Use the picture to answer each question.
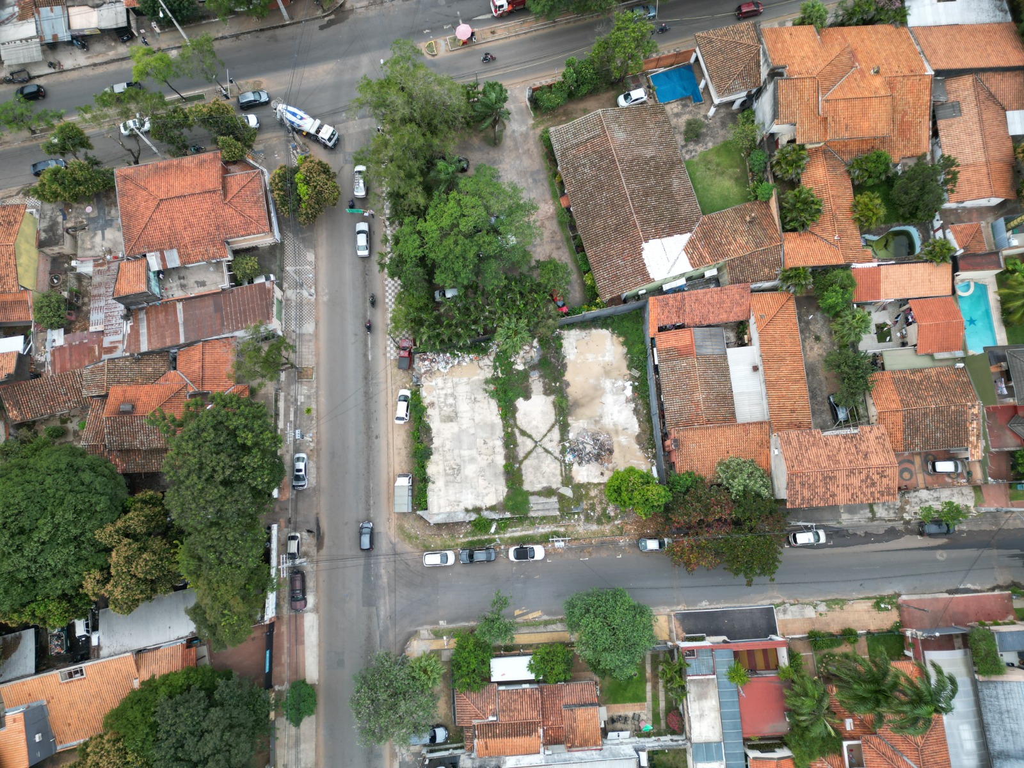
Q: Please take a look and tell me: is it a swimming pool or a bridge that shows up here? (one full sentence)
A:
Of the two, only a swimming pool appears.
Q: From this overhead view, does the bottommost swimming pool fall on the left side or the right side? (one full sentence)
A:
You can find the bottommost swimming pool on the right side of the picture.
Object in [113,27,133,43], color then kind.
black car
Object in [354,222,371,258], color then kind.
white car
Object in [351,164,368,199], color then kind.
white vehicle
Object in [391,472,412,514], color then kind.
white truck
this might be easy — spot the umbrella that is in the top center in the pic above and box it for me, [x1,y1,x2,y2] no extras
[455,24,472,39]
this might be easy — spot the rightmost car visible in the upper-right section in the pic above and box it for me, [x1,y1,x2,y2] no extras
[734,0,764,21]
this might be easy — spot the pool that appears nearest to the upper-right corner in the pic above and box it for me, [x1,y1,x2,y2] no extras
[861,224,923,261]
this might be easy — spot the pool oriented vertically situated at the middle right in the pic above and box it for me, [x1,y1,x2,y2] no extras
[953,280,1001,355]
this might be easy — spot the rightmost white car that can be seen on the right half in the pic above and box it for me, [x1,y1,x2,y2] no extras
[927,459,962,476]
